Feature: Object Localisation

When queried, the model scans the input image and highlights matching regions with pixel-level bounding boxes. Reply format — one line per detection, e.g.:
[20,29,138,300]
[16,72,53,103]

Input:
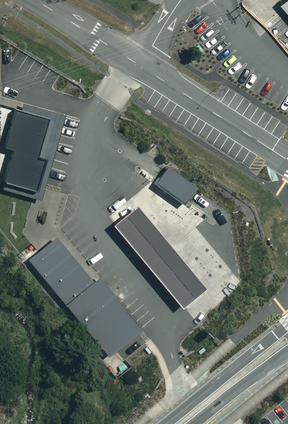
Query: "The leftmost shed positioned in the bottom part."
[28,238,95,305]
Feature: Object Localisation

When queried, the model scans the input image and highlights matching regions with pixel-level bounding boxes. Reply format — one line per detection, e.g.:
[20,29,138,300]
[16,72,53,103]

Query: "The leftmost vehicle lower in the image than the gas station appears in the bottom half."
[125,342,140,355]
